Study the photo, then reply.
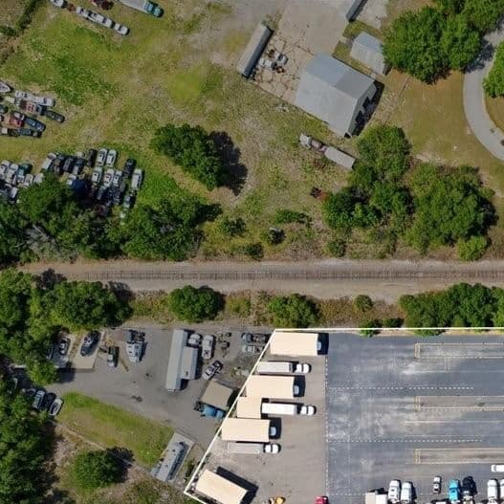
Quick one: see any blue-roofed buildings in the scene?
No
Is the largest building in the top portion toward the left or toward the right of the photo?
right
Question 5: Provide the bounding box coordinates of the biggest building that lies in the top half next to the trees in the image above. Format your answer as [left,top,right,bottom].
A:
[293,52,377,143]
